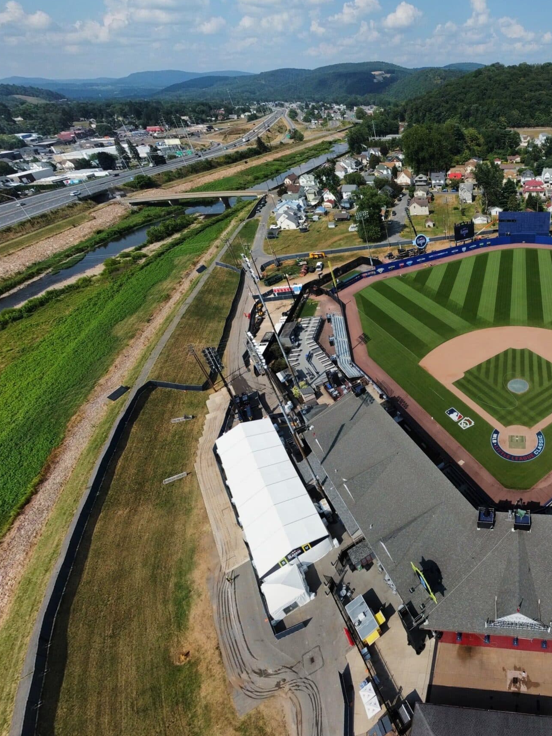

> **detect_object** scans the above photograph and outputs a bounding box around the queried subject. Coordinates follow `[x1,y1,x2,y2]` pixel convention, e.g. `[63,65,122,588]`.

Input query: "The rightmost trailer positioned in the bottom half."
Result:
[345,595,385,645]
